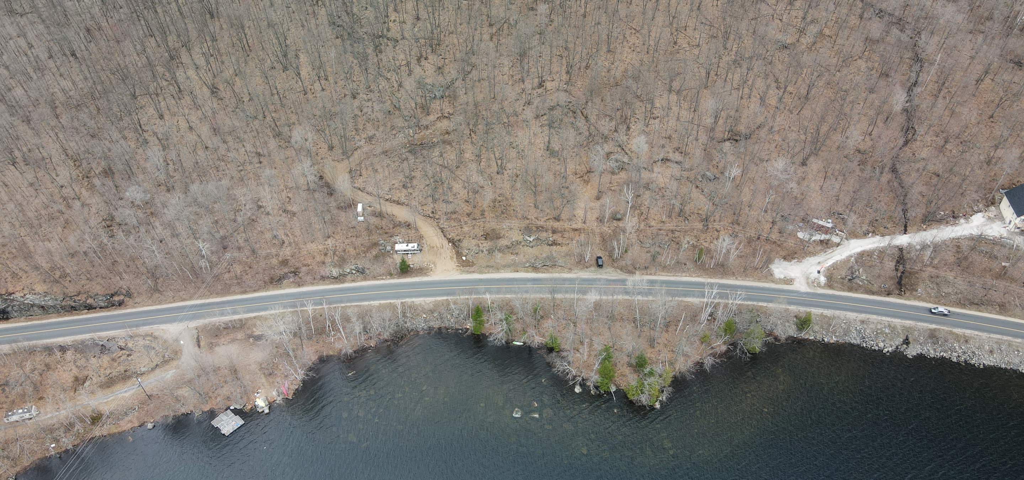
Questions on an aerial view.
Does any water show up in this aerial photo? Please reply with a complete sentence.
Yes, the picture does contain water.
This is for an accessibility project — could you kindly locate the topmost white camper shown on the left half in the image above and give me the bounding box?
[393,244,421,256]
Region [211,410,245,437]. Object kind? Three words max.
pier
